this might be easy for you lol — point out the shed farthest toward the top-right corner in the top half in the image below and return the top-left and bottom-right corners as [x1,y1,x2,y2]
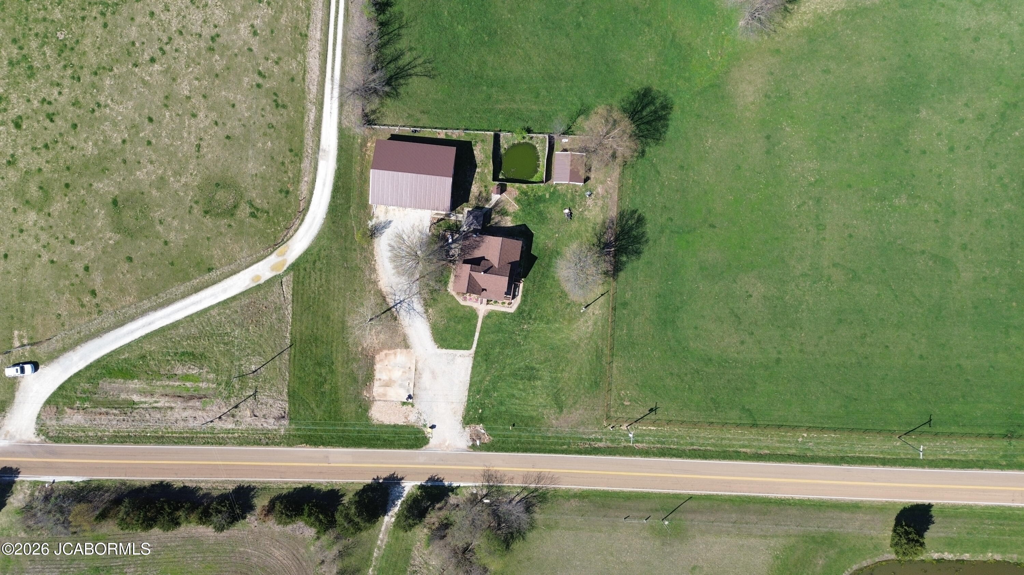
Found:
[553,151,586,185]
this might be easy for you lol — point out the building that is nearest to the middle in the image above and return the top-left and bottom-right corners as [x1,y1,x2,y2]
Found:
[453,232,522,303]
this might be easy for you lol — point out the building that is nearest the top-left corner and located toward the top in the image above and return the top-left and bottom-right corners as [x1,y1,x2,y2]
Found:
[370,139,457,212]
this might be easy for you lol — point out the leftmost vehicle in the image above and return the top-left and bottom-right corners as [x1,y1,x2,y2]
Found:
[5,363,38,377]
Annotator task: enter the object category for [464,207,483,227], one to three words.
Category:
gazebo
